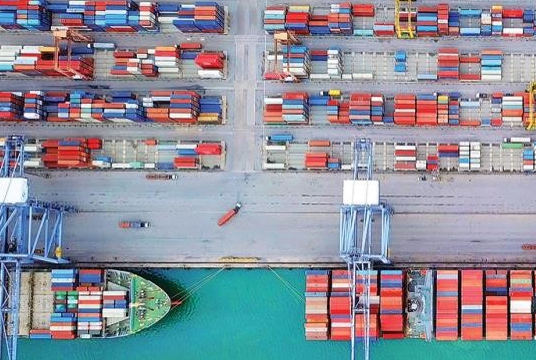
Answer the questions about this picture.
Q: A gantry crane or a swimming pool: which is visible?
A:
gantry crane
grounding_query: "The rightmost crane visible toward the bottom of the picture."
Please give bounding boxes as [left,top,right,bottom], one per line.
[335,137,397,360]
